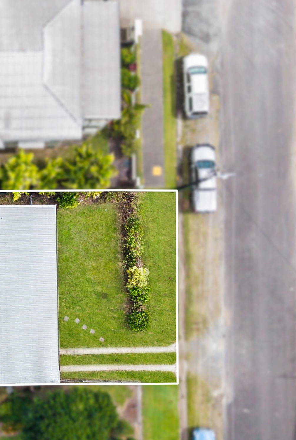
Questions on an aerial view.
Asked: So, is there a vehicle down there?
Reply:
Yes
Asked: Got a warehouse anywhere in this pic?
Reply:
No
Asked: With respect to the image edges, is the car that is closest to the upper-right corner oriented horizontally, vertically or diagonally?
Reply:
vertically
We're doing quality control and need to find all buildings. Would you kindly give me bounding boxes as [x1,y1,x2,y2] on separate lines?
[0,206,61,386]
[0,0,120,154]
